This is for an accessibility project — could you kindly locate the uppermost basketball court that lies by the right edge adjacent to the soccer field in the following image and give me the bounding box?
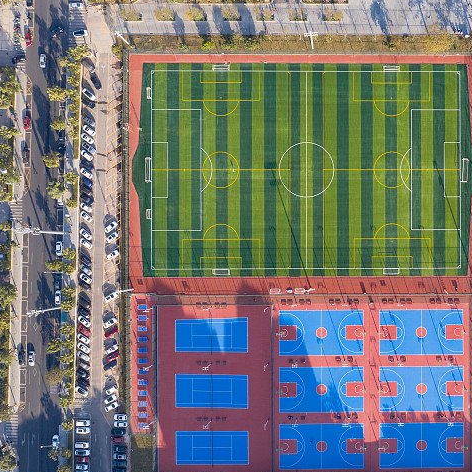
[380,309,464,355]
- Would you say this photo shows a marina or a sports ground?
sports ground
